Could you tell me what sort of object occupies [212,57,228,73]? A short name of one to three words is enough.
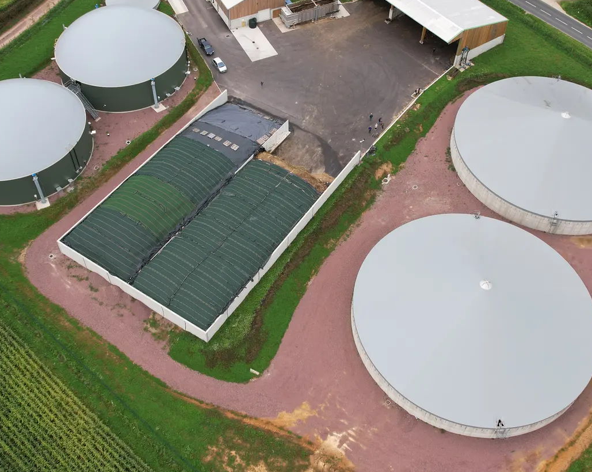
car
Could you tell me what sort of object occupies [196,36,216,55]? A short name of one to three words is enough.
vehicle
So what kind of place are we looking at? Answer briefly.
industrial area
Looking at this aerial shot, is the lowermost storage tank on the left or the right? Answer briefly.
right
